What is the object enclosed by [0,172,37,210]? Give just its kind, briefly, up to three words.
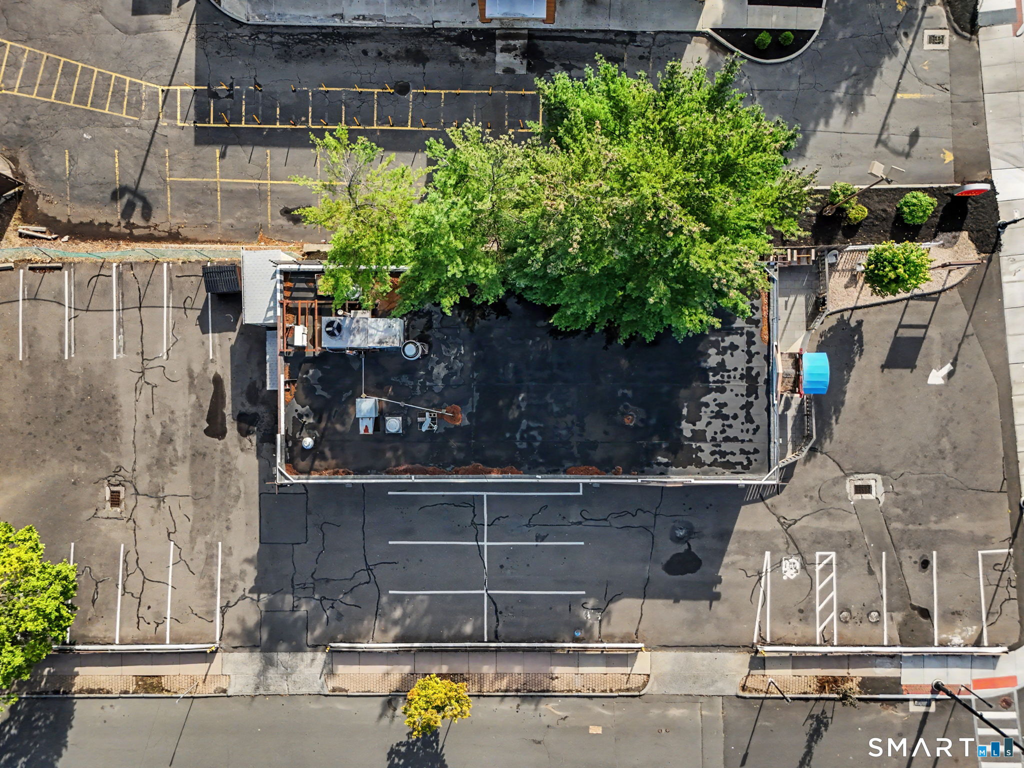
shed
